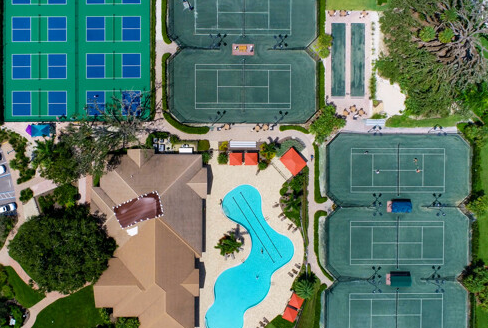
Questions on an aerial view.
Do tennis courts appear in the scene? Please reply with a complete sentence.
Yes, a tennis court is visible in the scene.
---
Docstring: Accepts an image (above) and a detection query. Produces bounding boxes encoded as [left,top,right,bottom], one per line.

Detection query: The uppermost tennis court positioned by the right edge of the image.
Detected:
[328,133,471,207]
